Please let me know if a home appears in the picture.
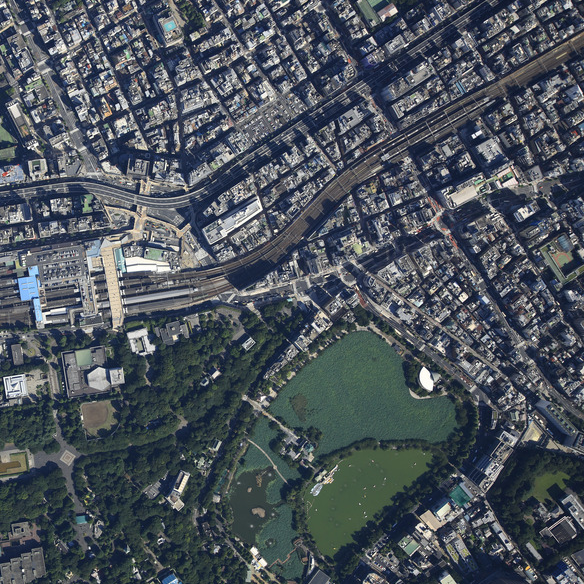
Yes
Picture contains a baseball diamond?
Yes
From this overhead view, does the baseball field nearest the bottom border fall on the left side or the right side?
left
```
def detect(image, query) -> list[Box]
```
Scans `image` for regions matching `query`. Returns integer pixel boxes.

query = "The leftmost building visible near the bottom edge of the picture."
[0,521,46,584]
